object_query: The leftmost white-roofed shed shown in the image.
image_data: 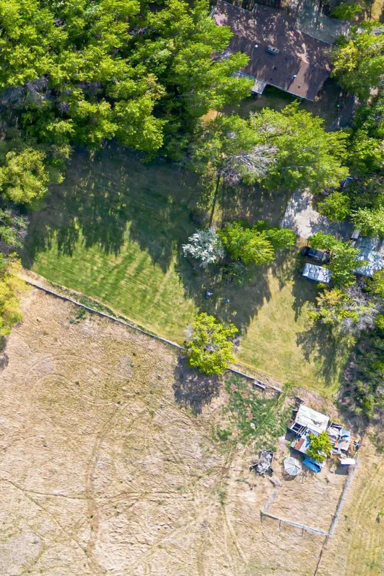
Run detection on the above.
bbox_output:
[288,402,329,461]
